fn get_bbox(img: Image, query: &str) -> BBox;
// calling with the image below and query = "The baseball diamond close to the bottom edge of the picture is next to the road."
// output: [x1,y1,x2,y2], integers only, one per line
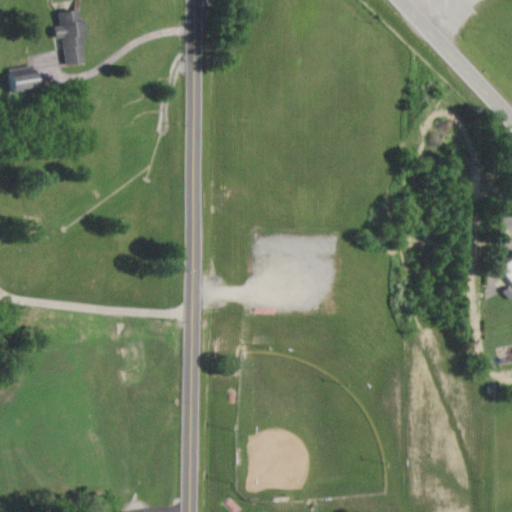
[236,350,385,502]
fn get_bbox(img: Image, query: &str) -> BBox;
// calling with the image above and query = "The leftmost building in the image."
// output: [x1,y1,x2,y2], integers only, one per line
[8,66,42,92]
